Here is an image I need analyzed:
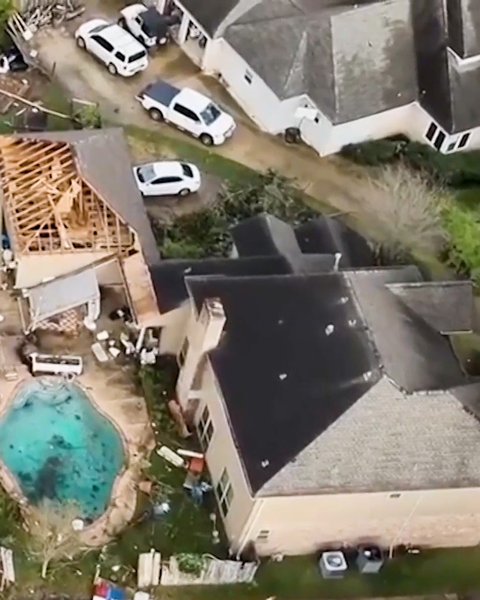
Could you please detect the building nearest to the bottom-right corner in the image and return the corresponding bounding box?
[144,212,480,551]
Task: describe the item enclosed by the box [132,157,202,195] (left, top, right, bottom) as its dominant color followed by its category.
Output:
white car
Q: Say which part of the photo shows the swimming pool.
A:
bottom left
